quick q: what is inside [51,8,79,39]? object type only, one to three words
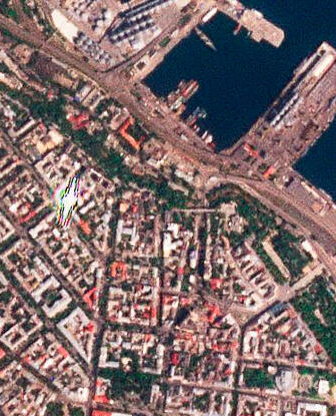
building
